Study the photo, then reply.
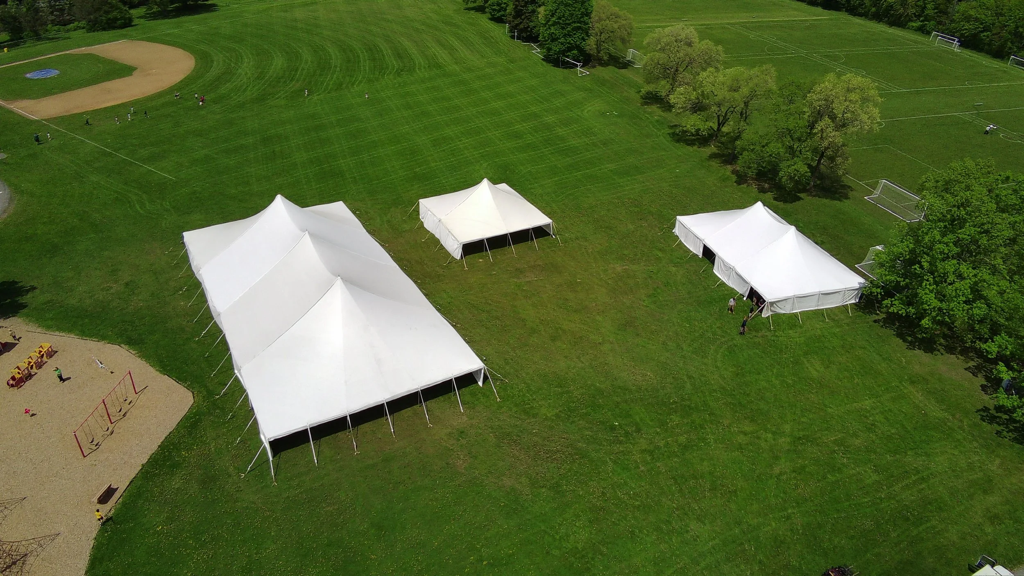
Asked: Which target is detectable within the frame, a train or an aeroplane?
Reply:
train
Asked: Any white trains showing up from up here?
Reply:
No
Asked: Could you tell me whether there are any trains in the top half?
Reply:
No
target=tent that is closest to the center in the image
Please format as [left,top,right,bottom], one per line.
[403,177,564,269]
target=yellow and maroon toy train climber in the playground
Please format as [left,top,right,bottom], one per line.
[8,349,53,390]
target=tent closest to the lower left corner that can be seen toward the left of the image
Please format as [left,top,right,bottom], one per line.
[165,194,504,486]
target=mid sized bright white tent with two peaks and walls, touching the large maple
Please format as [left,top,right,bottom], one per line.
[661,201,880,331]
